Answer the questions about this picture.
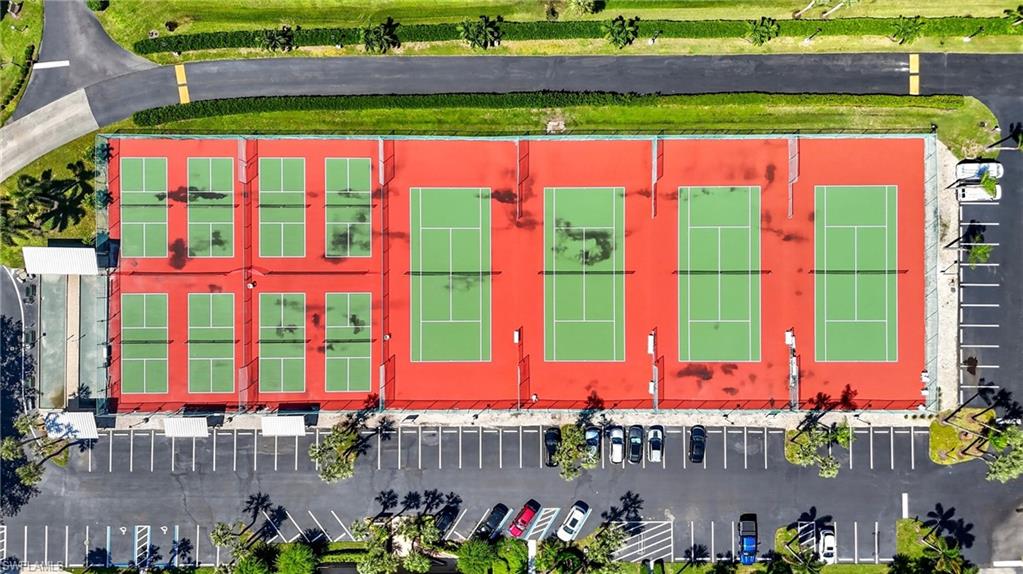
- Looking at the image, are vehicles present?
Yes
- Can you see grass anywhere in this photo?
Yes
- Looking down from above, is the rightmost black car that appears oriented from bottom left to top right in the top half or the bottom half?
bottom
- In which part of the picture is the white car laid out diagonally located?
bottom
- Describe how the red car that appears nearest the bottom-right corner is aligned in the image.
on a diagonal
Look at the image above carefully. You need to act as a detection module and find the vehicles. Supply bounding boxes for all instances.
[690,426,708,463]
[609,427,626,462]
[584,426,602,461]
[435,502,461,535]
[479,502,508,536]
[957,163,1004,181]
[544,428,560,465]
[628,426,645,462]
[509,501,537,536]
[738,518,757,562]
[957,185,1002,203]
[648,428,665,462]
[818,528,837,563]
[556,504,585,538]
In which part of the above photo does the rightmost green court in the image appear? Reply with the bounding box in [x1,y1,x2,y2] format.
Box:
[814,186,903,361]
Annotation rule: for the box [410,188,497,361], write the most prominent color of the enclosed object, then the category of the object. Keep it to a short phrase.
green tennis court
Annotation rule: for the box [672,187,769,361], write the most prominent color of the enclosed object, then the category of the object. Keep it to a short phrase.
green tennis court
